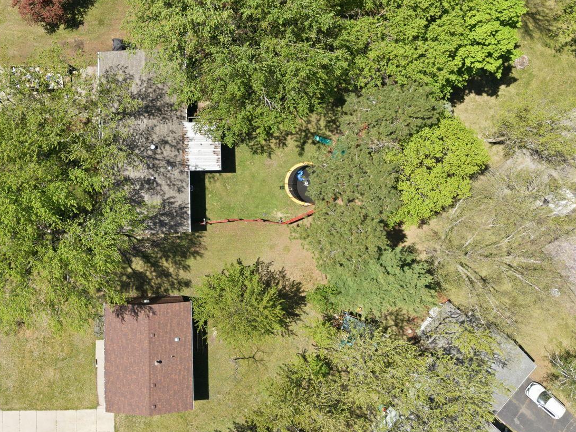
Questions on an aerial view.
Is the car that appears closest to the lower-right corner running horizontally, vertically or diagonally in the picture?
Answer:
diagonally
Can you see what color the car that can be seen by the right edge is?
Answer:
white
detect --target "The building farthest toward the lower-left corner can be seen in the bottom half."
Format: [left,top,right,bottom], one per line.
[102,298,195,416]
